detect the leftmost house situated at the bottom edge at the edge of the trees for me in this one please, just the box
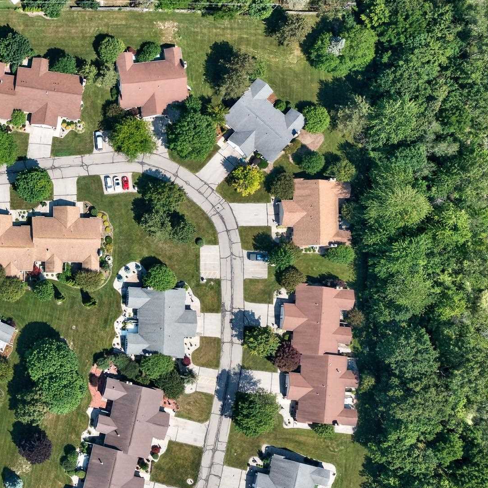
[83,378,171,488]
